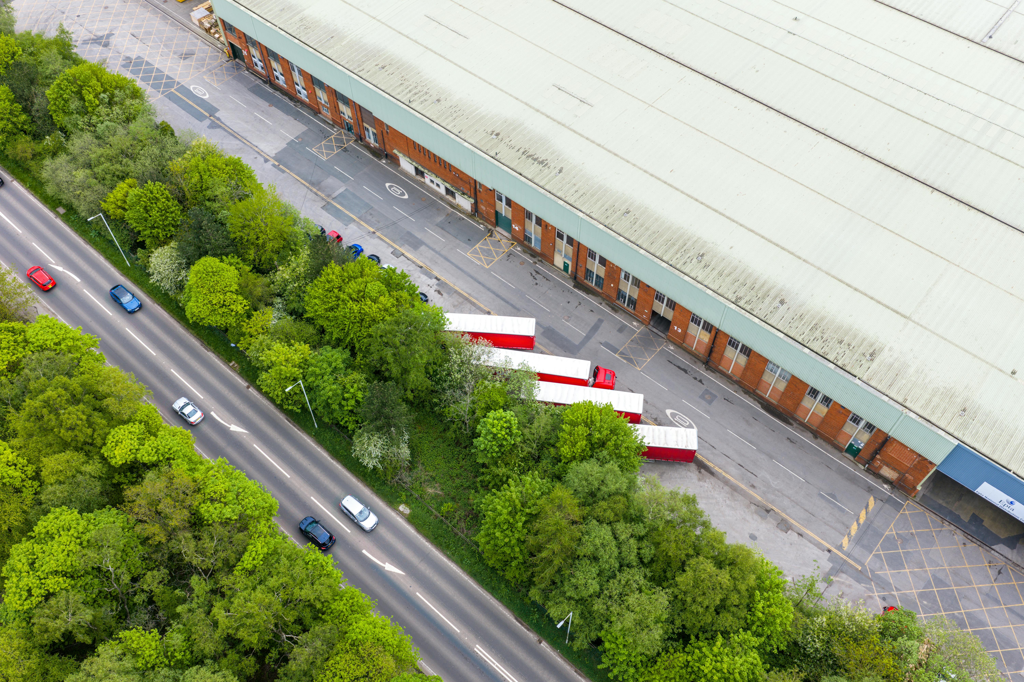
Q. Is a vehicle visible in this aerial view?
Yes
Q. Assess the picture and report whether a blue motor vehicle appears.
Yes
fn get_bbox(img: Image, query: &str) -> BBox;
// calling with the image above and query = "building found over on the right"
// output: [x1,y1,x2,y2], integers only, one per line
[211,0,1024,567]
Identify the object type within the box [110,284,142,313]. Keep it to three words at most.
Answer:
car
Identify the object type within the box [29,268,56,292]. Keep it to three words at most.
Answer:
car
